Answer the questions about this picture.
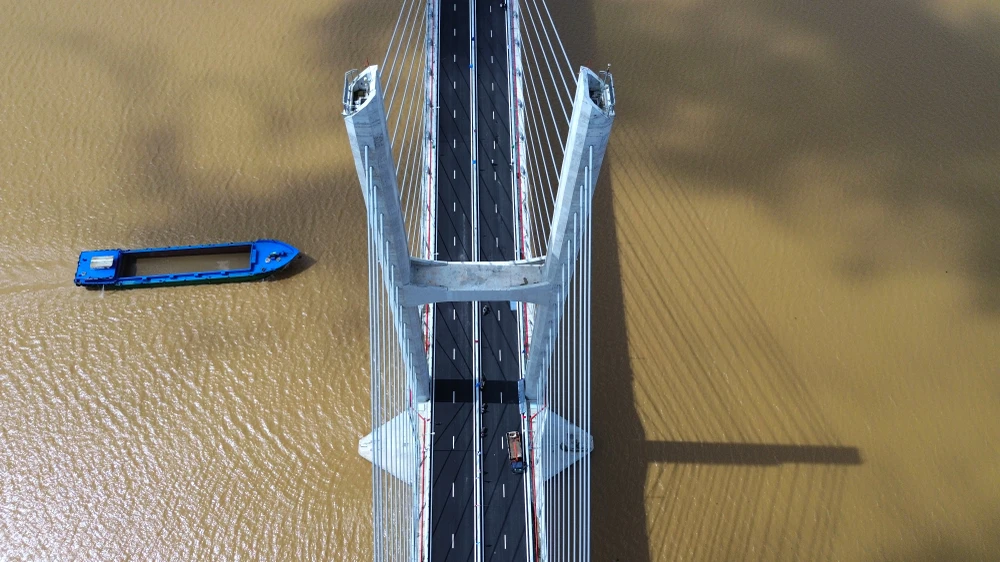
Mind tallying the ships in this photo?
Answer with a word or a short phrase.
1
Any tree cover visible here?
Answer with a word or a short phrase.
No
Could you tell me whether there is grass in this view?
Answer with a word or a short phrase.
No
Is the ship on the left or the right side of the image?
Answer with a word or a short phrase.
left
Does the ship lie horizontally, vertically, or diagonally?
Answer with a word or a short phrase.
horizontally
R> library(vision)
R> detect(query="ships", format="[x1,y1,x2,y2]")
[70,239,299,300]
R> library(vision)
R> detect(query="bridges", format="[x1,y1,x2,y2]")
[343,0,611,562]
